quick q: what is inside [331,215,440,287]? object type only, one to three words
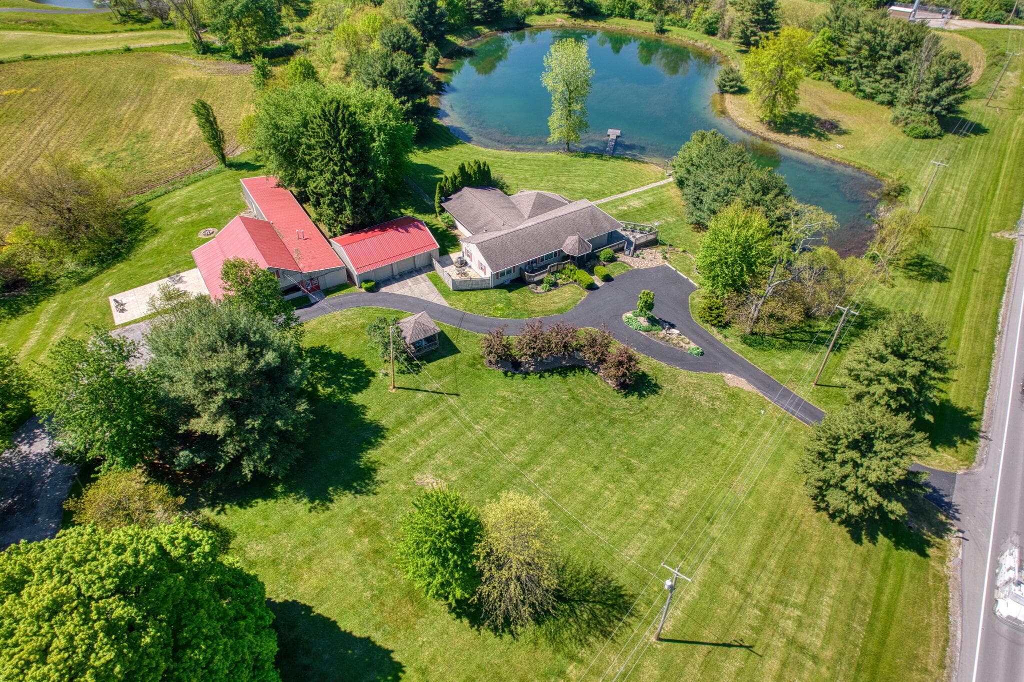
building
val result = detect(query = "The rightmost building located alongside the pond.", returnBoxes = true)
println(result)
[442,185,625,285]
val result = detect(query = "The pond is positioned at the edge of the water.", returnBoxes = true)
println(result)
[469,37,829,215]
